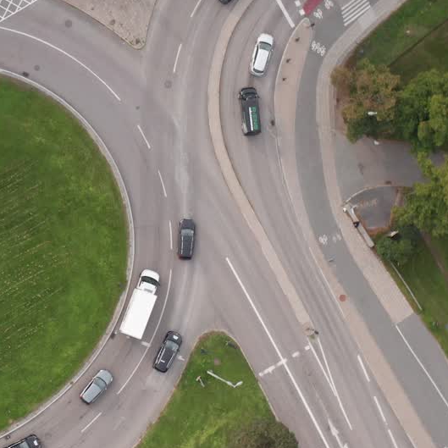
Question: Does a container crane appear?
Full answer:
No, there's no container crane here.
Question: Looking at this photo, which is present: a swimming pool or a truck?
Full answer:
There is a truck in the scene.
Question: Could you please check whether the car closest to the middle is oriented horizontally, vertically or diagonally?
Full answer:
The car closest to the middle is laid out vertically.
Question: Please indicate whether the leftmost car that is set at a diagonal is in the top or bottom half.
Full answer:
It is in the bottom half that the leftmost car that is set at a diagonal appears.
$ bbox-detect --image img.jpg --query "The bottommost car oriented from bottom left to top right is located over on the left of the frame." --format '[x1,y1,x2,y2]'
[78,369,112,405]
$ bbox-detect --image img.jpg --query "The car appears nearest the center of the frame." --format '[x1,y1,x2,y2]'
[176,218,197,259]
